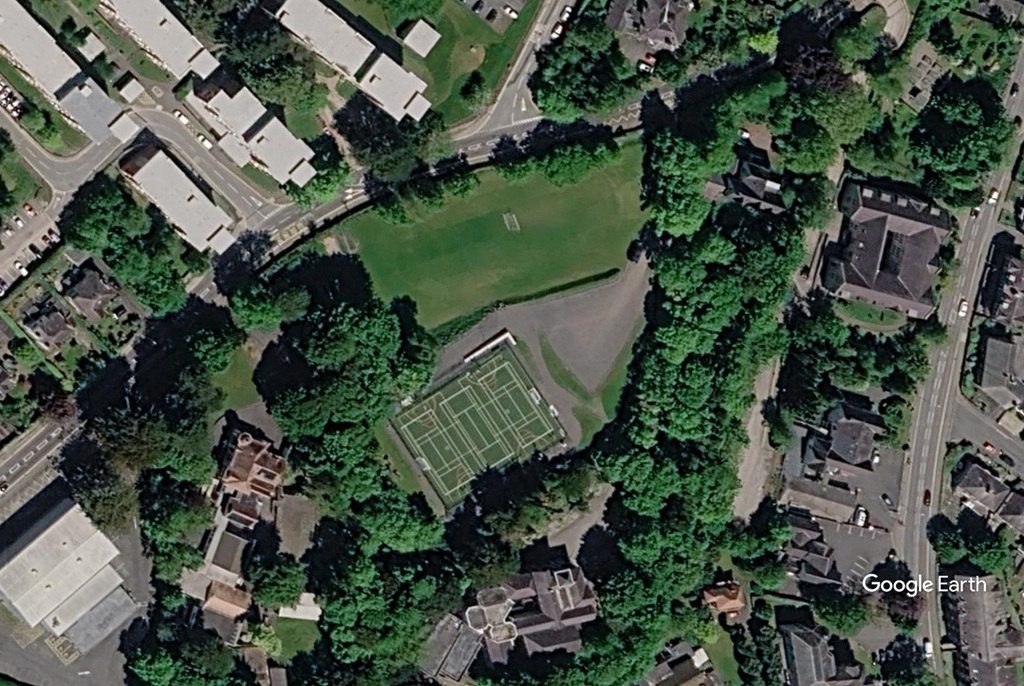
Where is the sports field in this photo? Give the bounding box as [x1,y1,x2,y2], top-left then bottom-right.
[316,138,651,338]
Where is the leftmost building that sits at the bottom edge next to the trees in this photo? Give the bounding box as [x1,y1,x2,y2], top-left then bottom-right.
[0,502,137,654]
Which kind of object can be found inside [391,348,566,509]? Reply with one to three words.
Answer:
sports court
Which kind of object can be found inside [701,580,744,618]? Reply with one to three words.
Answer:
house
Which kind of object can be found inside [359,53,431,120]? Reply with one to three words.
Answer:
building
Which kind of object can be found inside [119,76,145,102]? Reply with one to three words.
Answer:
shed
